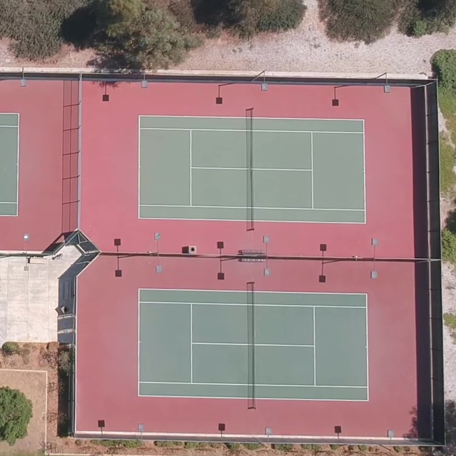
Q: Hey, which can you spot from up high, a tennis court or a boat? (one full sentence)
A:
The one in the frame is a tennis court.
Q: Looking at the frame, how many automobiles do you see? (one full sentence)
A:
There are no automobiles in the image.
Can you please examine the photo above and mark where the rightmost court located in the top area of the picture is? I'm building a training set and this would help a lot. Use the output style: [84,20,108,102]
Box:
[78,77,429,257]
